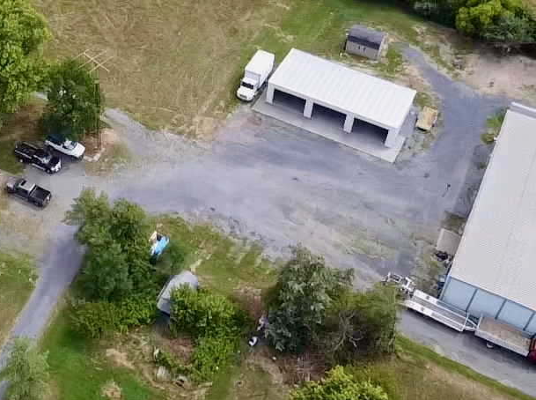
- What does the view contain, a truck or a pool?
truck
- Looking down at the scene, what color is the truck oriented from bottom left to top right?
white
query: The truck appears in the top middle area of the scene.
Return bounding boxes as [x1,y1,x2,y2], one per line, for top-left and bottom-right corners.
[240,48,282,101]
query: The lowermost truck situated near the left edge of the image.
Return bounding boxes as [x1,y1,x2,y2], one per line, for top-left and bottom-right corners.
[4,178,52,205]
